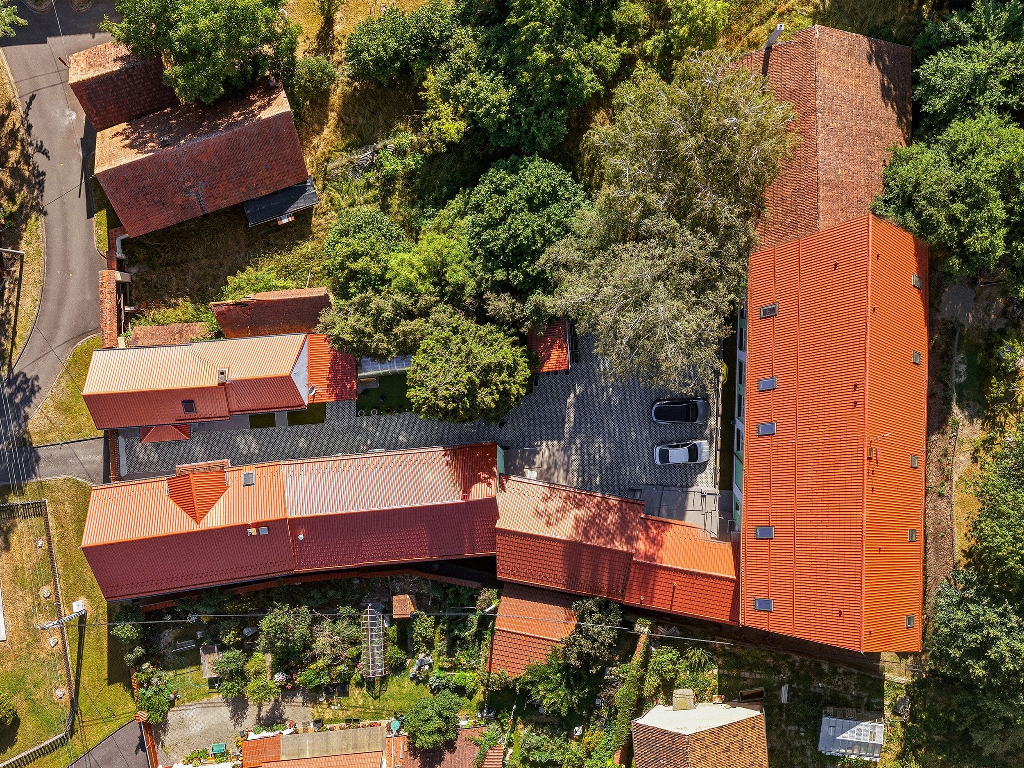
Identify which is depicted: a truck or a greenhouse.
greenhouse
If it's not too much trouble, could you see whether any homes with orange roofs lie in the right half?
Yes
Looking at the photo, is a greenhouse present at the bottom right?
Yes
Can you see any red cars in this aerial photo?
No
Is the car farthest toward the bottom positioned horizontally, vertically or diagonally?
horizontally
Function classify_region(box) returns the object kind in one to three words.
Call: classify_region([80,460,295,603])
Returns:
house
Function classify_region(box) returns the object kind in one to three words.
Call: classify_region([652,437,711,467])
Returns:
car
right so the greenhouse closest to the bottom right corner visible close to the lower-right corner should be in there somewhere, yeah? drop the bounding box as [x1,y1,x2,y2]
[809,706,884,762]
